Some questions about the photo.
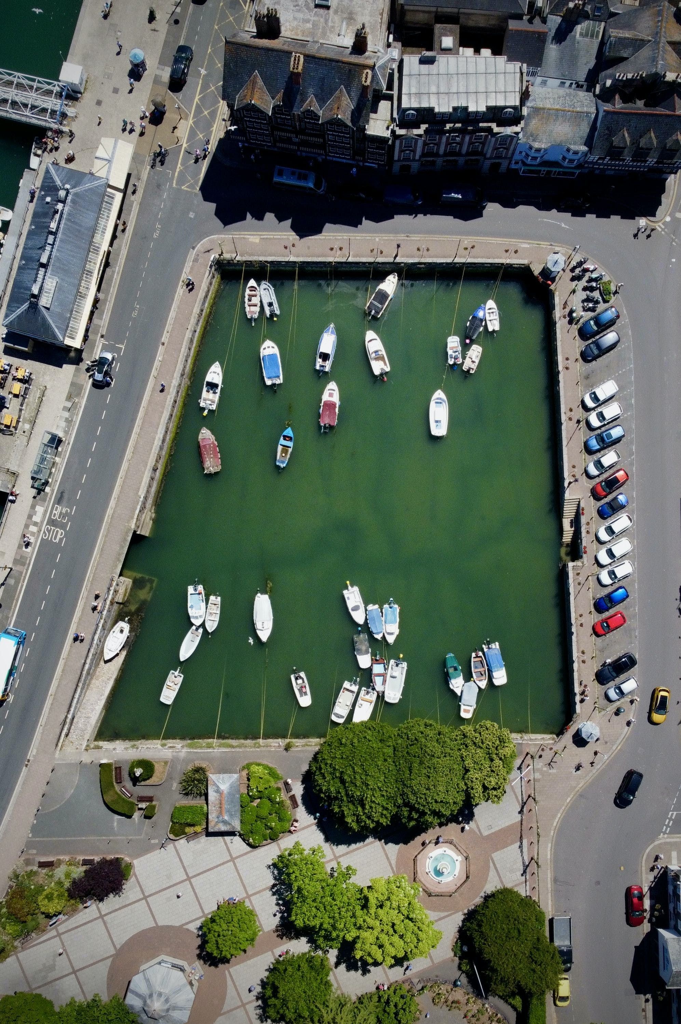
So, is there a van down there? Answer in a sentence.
Yes, this view includes a van.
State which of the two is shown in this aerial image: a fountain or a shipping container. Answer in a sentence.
The image shows a fountain.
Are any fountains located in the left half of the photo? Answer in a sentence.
No, the scene shows no fountain in the left half of the photo.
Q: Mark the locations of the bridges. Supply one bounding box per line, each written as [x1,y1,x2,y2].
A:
[0,69,78,133]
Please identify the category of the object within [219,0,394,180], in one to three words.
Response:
building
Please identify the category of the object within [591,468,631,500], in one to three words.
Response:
car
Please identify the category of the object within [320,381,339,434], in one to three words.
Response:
boat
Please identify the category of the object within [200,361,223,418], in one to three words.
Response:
boat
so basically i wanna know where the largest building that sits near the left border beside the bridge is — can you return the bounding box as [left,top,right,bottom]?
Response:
[2,162,123,353]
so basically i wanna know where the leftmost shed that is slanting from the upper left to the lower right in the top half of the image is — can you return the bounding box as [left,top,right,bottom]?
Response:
[49,36,90,99]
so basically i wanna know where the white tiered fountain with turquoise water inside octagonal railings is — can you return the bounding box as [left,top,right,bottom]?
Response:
[413,835,474,901]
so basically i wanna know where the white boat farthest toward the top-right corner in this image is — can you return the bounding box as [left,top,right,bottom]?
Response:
[487,300,499,338]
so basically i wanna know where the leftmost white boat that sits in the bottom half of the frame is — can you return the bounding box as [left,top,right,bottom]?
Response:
[104,616,130,661]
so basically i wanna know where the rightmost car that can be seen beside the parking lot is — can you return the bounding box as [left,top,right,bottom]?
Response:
[649,687,672,724]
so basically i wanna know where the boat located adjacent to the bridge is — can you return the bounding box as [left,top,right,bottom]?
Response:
[30,137,42,170]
